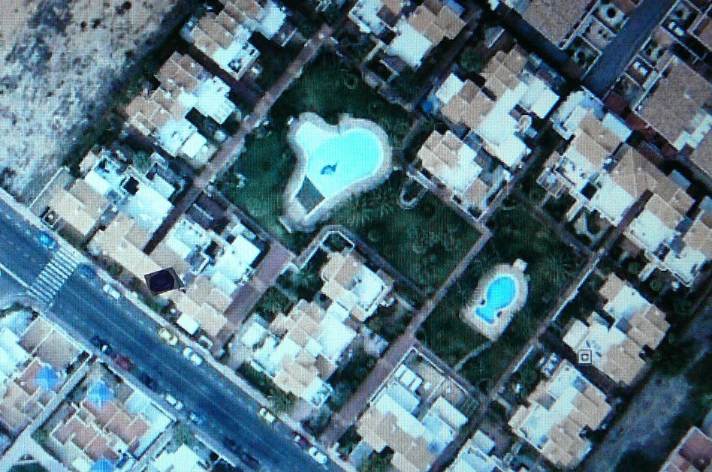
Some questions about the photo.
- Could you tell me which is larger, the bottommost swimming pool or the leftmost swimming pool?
the leftmost swimming pool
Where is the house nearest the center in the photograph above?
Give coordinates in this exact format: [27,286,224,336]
[318,248,396,325]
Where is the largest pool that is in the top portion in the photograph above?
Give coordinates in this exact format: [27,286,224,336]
[280,112,393,231]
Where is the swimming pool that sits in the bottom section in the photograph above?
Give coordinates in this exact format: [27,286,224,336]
[461,257,529,342]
